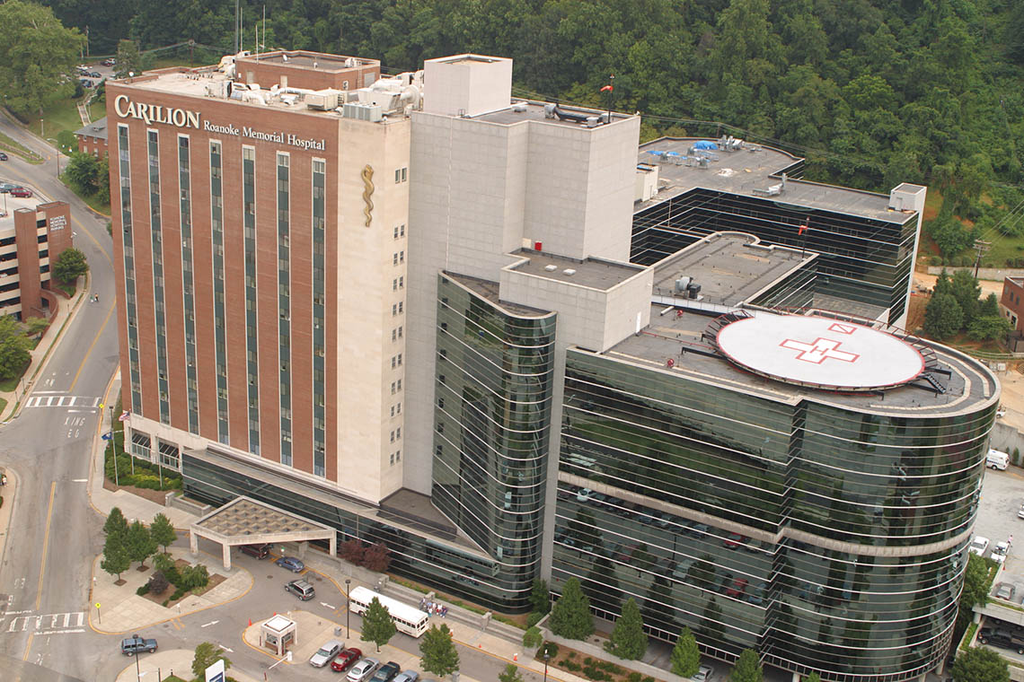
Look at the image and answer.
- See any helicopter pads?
Yes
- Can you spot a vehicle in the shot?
Yes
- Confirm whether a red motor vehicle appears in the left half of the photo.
Yes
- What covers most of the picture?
buildings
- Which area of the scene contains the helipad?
right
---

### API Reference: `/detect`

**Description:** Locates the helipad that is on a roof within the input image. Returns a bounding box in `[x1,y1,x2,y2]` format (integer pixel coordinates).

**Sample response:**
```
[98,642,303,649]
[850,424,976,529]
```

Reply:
[682,310,953,412]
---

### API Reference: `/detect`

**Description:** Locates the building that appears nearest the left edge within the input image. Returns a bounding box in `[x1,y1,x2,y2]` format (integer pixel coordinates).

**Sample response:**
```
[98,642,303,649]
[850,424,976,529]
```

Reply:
[0,170,75,323]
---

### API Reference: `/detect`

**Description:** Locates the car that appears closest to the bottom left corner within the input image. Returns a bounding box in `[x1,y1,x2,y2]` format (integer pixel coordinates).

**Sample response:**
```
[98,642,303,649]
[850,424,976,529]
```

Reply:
[122,633,156,651]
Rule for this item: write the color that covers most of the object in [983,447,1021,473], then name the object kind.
white vehicle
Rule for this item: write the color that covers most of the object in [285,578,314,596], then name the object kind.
gray car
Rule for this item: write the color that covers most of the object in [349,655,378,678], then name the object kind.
white car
